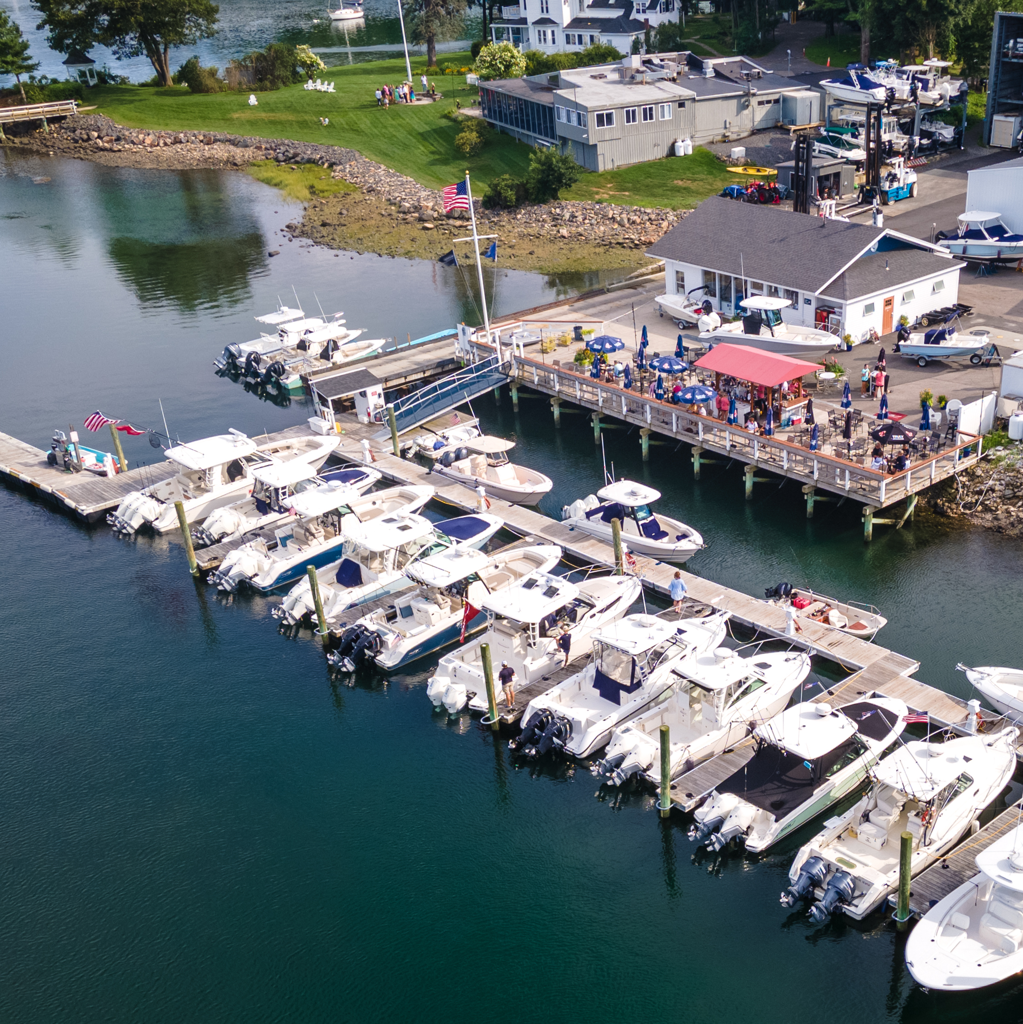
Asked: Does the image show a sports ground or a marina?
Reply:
marina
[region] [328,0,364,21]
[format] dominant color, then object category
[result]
white boat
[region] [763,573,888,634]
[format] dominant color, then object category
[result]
white boat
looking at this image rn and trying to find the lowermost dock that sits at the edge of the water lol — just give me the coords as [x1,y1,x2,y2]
[875,841,973,940]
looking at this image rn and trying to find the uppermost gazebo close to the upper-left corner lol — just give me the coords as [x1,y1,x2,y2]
[56,39,93,85]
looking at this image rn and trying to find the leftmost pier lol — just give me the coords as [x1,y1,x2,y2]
[0,429,100,502]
